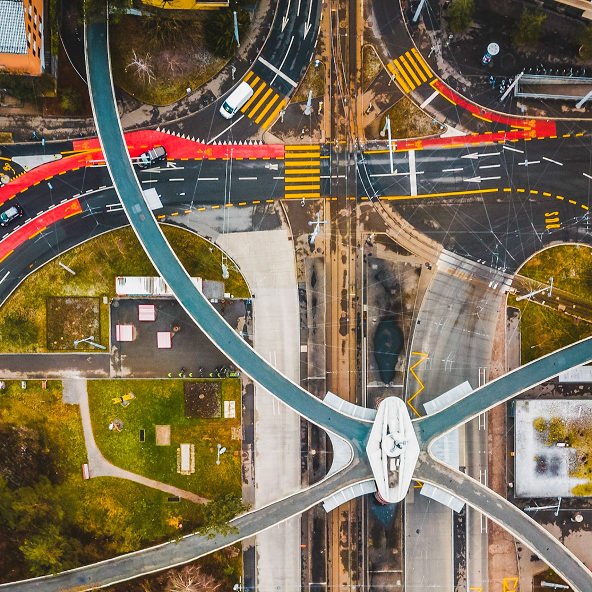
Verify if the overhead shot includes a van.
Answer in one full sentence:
Yes, there is a van in the image.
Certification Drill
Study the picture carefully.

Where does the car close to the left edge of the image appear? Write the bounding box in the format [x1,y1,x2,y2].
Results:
[0,203,25,227]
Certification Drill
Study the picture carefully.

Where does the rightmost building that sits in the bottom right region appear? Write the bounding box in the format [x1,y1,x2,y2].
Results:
[514,398,592,499]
